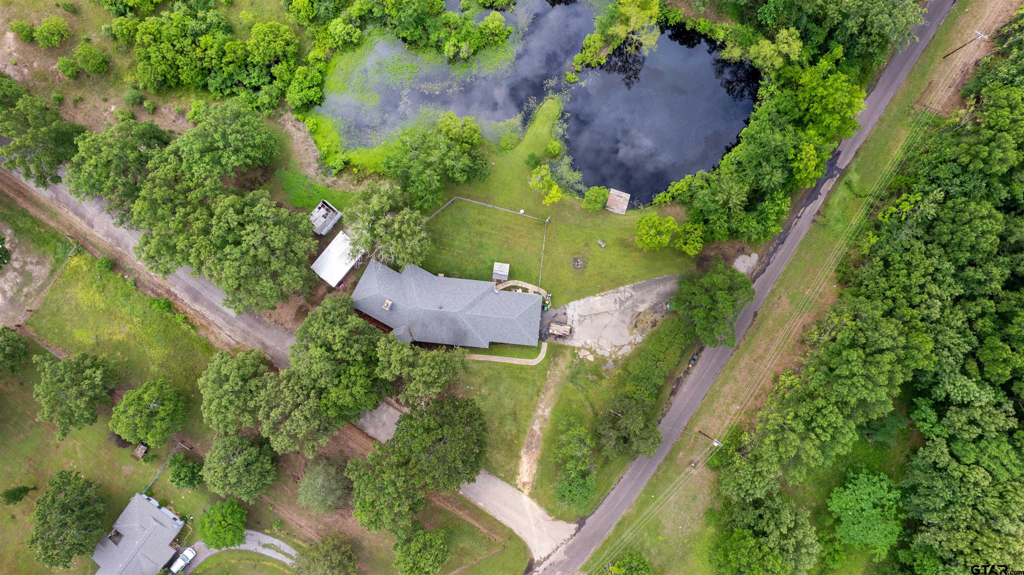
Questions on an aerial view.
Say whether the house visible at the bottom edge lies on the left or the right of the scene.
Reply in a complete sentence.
The house visible at the bottom edge is on the left side of the image.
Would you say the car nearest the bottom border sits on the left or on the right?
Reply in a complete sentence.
You can find the car nearest the bottom border on the left side of the picture.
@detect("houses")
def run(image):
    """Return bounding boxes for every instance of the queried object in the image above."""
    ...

[351,260,543,349]
[92,489,189,575]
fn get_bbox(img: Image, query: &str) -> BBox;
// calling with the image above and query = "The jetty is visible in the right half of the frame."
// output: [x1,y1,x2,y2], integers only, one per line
[604,188,630,216]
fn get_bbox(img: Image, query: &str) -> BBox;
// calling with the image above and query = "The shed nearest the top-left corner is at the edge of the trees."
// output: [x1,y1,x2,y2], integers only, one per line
[304,200,344,235]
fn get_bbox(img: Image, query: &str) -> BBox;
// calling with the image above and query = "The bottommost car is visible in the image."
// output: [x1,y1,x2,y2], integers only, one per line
[170,548,193,575]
